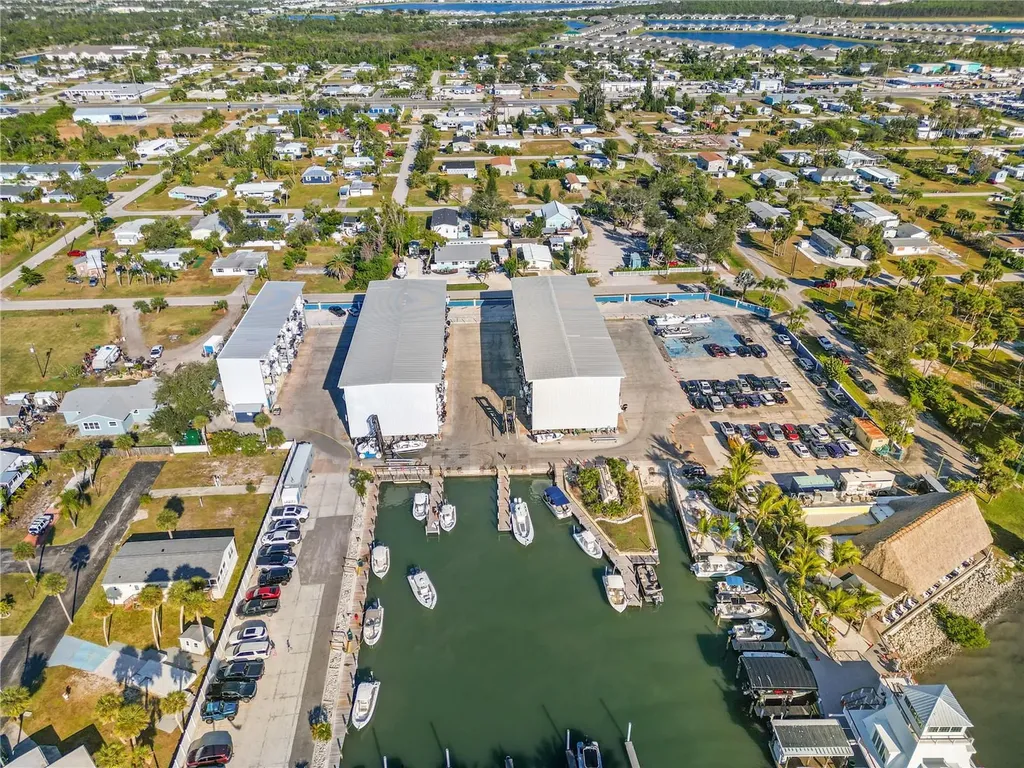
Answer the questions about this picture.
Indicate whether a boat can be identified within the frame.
Yes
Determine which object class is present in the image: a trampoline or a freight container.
freight container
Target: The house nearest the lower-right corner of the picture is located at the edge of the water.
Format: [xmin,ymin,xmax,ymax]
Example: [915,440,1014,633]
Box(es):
[836,682,982,768]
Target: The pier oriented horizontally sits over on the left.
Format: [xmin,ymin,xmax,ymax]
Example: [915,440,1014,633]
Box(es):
[373,465,441,489]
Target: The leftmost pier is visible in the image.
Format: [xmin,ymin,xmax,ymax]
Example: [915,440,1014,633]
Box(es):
[327,478,379,768]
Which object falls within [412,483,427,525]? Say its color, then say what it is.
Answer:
white boat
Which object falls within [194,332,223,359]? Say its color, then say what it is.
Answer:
white truck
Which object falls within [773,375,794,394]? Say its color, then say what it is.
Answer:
white vehicle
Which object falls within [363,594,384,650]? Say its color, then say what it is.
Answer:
white boat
